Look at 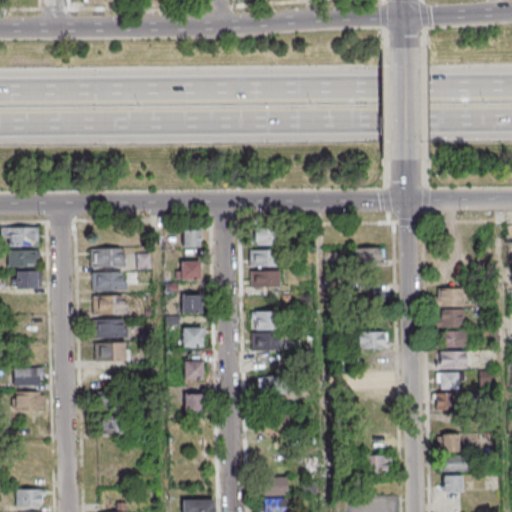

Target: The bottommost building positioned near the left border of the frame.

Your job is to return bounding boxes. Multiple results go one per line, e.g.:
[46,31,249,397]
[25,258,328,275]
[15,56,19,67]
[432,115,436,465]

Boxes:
[16,488,46,510]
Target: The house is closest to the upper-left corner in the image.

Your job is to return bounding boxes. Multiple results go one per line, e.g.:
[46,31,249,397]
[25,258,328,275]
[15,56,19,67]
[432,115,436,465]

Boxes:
[2,226,40,248]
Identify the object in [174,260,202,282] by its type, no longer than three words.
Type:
house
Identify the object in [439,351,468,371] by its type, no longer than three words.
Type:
house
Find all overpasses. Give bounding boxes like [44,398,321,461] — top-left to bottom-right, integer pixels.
[384,28,428,186]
